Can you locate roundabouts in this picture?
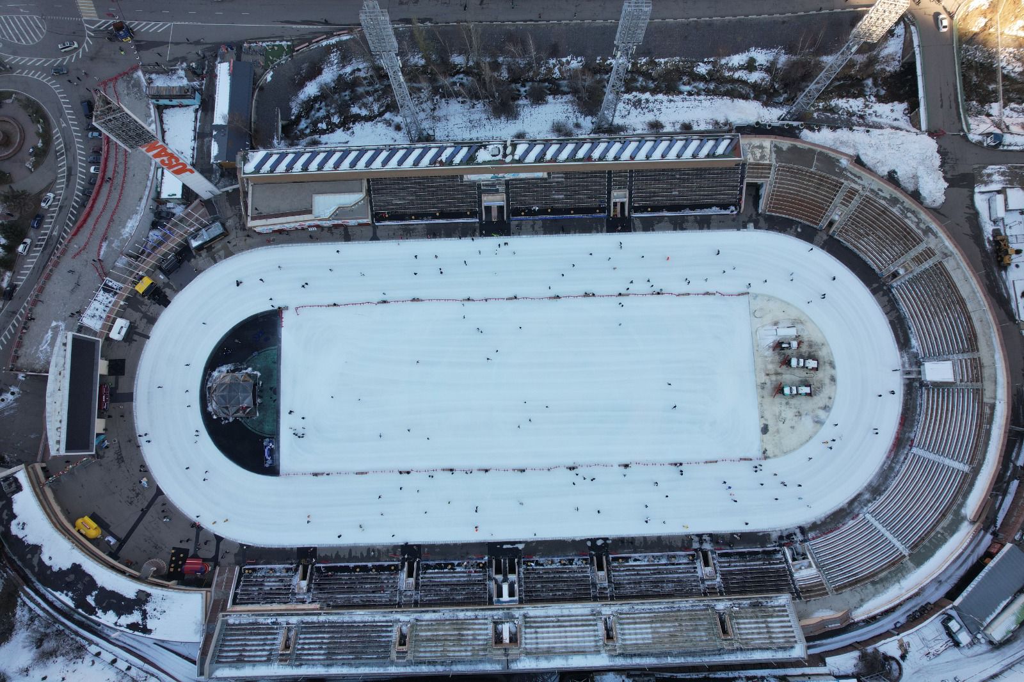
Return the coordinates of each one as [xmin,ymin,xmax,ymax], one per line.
[0,89,54,290]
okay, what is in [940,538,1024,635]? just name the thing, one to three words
building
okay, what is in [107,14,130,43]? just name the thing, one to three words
truck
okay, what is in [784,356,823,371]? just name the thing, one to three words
vehicle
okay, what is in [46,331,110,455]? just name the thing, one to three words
building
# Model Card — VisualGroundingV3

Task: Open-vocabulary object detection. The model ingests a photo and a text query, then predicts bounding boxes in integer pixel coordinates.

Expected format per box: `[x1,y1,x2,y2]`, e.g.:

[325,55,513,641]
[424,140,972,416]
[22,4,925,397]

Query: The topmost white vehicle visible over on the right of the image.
[938,12,950,31]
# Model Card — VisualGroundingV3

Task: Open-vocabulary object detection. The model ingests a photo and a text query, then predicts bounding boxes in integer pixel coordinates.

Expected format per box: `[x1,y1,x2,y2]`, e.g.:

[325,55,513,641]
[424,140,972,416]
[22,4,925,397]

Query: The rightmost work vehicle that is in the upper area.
[995,231,1020,264]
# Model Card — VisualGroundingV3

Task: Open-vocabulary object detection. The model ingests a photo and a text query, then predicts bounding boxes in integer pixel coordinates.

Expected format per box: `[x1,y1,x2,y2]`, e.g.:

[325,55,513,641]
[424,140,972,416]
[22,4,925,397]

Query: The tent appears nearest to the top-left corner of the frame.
[73,276,123,331]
